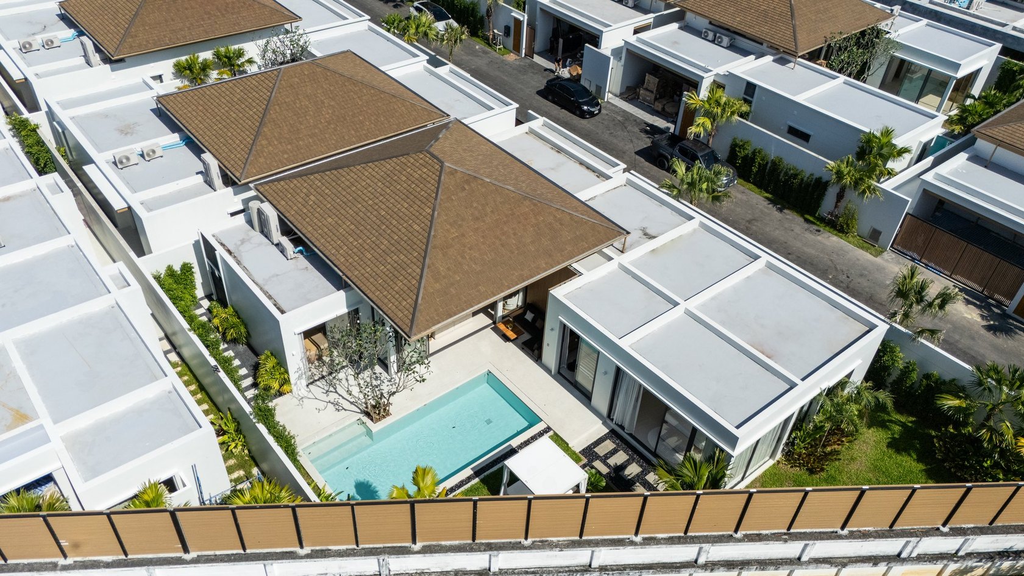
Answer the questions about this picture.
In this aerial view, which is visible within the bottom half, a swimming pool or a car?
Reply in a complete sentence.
The feature located within the bottom half is a swimming pool.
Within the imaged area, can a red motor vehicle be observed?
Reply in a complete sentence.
No, no red motor vehicle can be seen from above.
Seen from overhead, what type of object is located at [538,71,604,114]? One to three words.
car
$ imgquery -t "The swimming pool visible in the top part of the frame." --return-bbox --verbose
[930,135,958,158]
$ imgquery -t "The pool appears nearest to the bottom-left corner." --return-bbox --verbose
[302,371,542,504]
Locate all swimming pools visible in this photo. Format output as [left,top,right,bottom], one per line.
[302,371,542,504]
[930,135,958,158]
